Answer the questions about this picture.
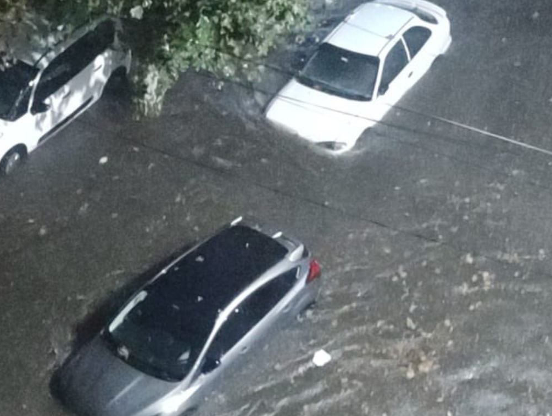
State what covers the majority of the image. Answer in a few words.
water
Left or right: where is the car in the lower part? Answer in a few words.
left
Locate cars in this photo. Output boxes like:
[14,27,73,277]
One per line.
[0,10,131,175]
[258,0,445,155]
[54,218,315,416]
